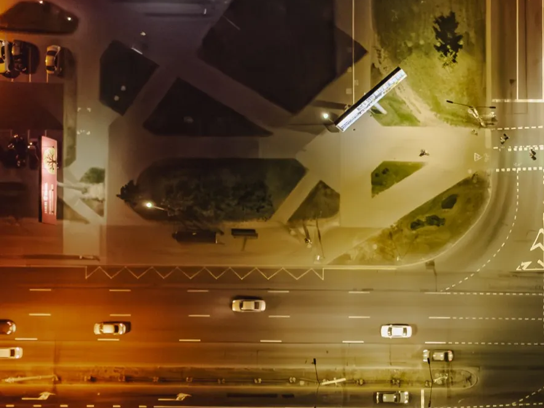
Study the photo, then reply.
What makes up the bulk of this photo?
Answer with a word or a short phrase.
paved ground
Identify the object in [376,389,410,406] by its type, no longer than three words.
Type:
car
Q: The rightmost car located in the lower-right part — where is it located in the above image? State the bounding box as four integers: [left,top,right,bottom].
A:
[424,347,458,364]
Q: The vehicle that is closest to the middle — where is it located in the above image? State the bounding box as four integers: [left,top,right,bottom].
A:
[232,296,267,312]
